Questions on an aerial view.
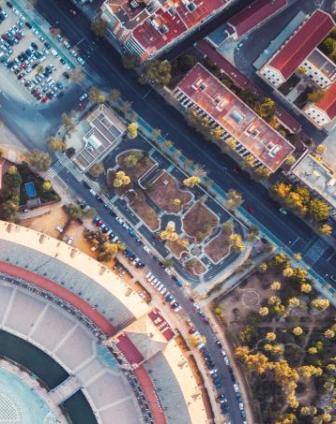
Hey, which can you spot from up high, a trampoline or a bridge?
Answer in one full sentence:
There is a bridge in the scene.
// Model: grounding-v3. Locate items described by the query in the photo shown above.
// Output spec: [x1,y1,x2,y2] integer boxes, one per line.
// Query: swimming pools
[25,182,37,198]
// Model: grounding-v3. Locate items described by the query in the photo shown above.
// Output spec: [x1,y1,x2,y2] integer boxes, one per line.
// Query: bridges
[47,373,83,408]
